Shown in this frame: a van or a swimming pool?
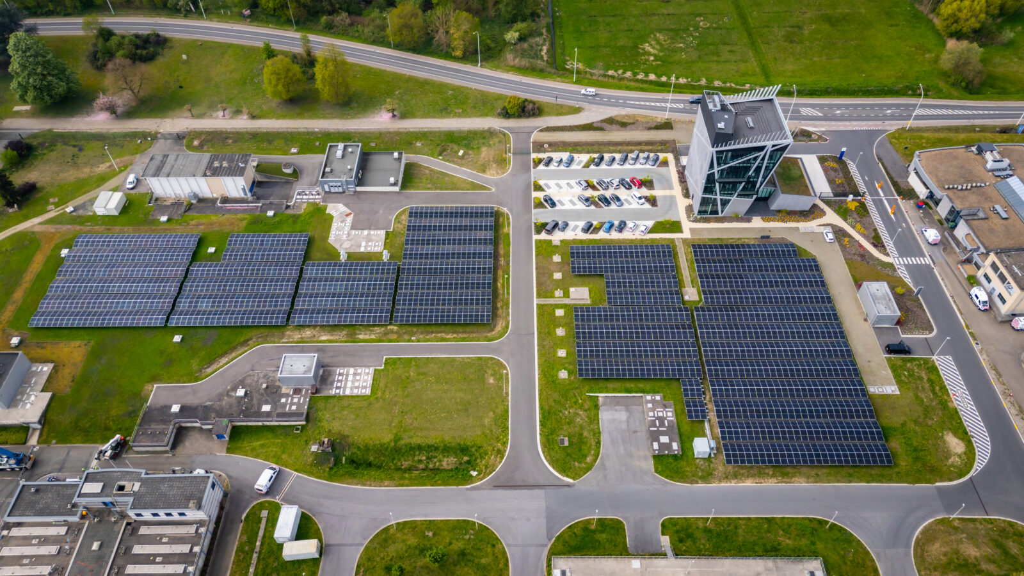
van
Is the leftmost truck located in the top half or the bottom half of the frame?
bottom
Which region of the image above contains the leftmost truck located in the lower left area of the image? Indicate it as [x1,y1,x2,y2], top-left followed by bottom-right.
[0,443,48,486]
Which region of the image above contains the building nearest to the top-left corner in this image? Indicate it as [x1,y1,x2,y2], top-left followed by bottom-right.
[138,154,258,200]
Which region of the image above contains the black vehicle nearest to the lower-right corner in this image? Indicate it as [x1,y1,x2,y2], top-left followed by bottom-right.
[885,340,911,354]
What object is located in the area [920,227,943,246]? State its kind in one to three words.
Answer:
vehicle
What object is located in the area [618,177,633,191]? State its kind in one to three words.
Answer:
car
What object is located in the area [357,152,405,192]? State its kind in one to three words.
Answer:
building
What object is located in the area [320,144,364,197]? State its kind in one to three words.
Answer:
building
